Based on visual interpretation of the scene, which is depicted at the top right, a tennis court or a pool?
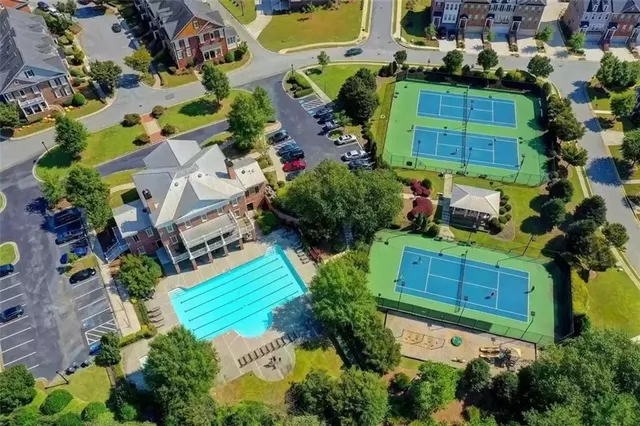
tennis court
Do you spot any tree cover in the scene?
Yes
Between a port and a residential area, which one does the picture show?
residential area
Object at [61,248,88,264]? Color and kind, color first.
blue car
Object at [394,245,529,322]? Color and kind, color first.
blue tennis court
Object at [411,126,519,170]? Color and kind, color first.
blue tennis court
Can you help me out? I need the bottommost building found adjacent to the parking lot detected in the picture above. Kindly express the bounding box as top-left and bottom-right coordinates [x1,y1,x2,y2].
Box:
[112,138,271,267]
